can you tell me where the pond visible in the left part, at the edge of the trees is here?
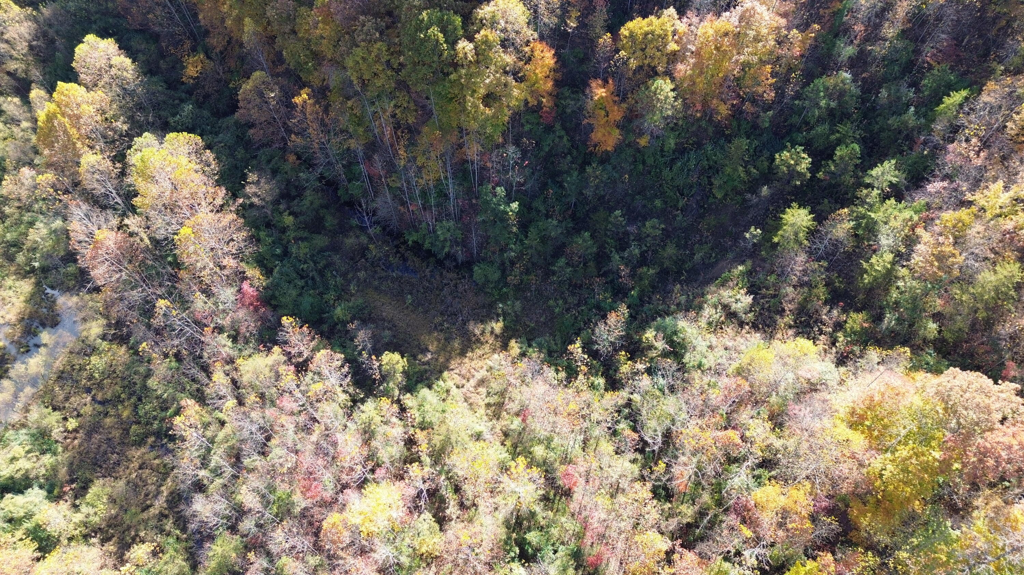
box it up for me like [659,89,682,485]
[0,284,87,438]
